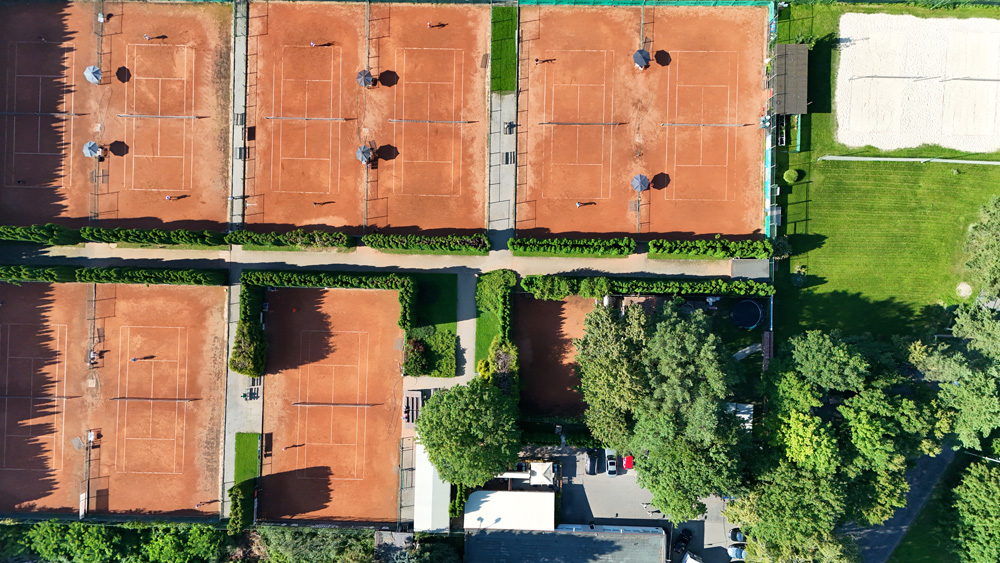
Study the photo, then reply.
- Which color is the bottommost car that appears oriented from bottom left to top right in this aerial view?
black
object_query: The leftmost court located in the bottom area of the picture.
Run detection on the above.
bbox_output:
[0,281,94,512]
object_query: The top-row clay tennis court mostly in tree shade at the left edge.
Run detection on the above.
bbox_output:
[0,3,101,228]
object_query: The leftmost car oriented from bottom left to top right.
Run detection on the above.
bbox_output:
[672,527,695,555]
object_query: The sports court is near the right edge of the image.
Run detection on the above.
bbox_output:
[836,13,1000,153]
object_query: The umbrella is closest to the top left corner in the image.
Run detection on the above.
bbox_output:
[84,65,102,83]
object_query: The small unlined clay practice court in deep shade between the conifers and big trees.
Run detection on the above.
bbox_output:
[512,292,602,418]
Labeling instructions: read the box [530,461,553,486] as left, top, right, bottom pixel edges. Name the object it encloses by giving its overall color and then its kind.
white gazebo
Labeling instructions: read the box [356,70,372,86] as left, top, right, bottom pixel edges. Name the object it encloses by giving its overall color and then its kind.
gray umbrella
